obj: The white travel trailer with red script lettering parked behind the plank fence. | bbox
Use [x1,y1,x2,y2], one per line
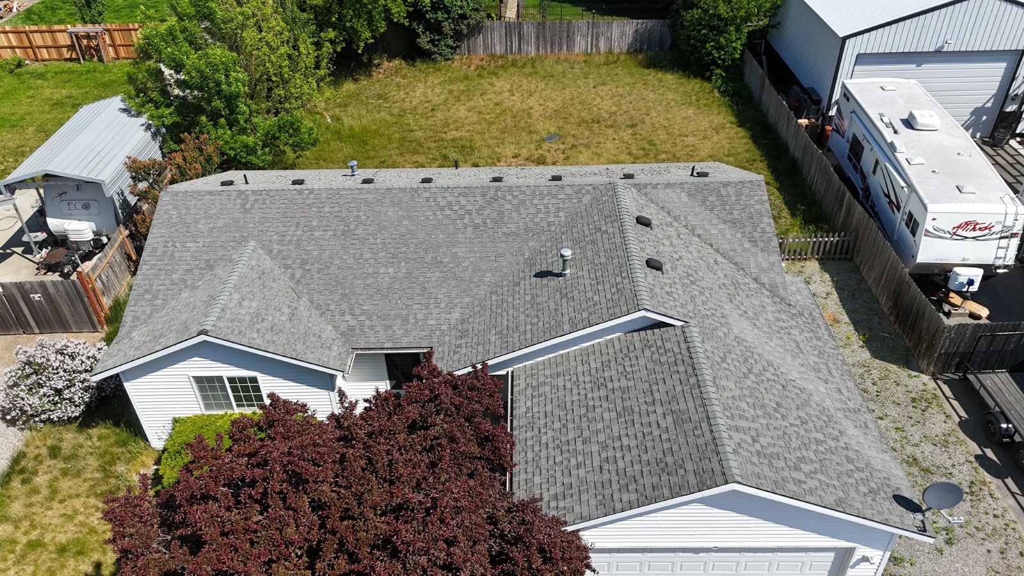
[833,84,1021,302]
